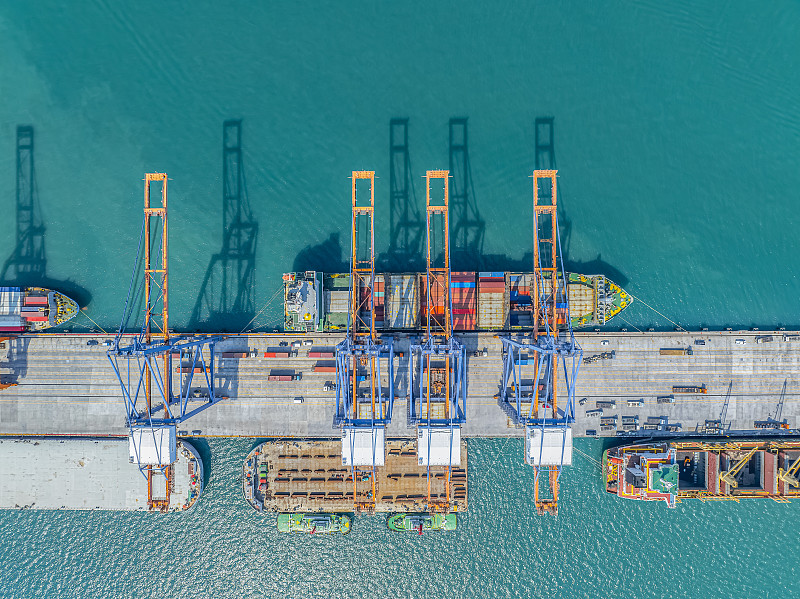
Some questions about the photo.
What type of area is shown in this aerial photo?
port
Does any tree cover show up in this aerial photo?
No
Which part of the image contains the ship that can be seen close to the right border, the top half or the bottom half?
bottom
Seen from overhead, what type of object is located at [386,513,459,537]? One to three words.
boat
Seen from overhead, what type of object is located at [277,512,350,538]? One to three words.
boat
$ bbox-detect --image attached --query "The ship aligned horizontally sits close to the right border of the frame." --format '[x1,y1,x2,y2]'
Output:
[597,437,800,509]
